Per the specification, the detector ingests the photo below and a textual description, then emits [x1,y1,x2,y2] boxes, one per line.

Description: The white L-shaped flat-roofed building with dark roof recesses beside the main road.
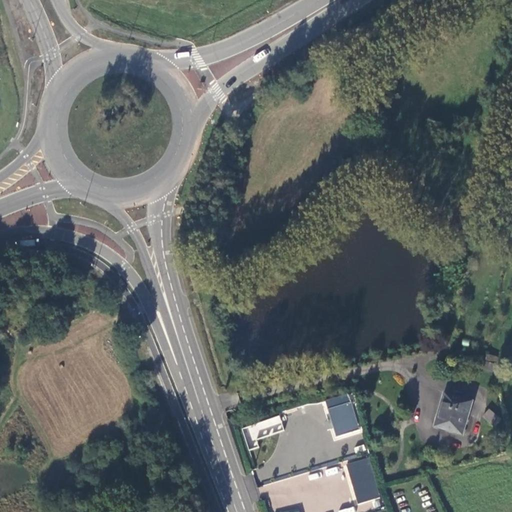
[242,416,284,451]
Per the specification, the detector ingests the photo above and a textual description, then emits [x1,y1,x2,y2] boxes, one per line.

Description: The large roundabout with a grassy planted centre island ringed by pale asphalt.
[38,46,202,208]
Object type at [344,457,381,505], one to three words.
building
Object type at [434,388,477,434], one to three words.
house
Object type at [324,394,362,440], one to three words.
building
